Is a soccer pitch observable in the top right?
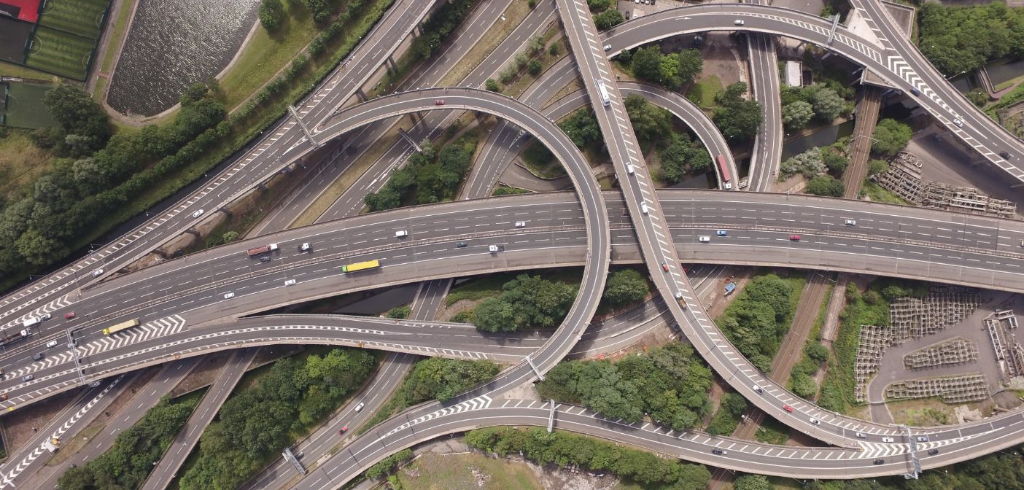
No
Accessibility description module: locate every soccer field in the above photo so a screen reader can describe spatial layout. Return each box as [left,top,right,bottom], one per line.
[0,81,64,126]
[33,0,111,39]
[21,24,96,80]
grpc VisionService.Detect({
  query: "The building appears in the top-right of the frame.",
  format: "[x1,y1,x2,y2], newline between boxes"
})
[784,61,803,88]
